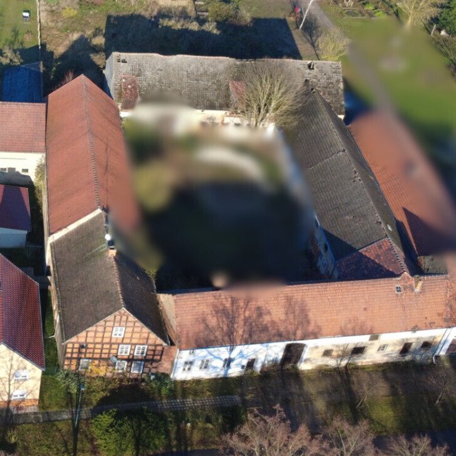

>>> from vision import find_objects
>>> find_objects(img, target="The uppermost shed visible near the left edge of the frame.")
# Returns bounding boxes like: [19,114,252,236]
[1,64,43,104]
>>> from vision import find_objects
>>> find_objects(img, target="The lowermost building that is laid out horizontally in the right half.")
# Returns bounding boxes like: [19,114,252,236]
[156,272,446,376]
